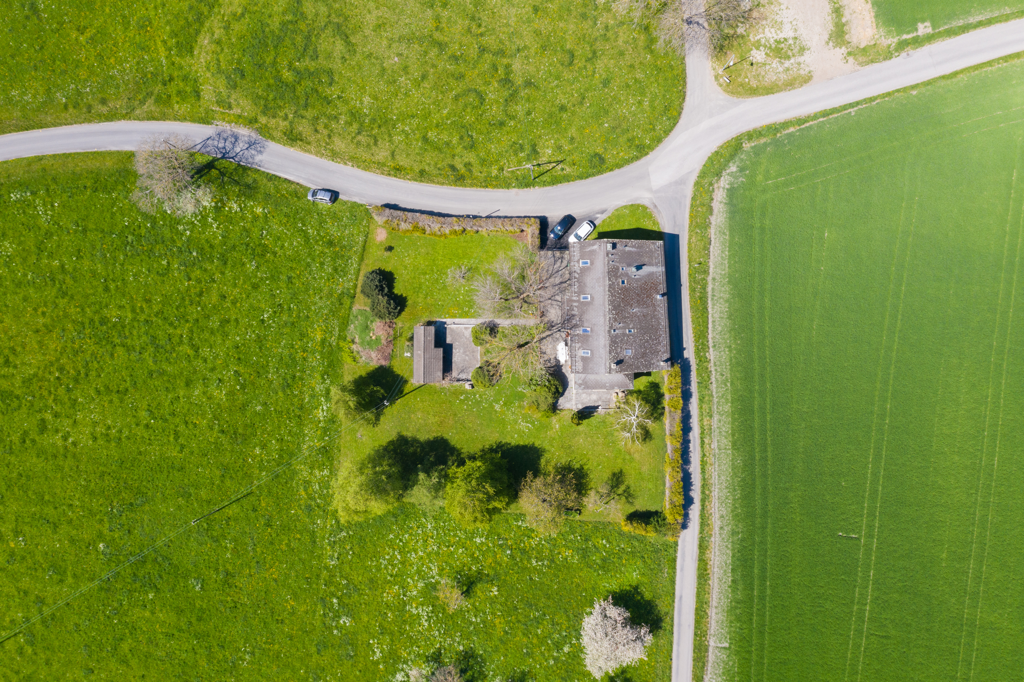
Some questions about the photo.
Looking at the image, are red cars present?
No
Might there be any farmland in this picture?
Yes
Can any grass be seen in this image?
Yes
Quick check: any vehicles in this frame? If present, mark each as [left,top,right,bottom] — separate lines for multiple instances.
[550,214,574,241]
[307,189,335,205]
[569,218,593,242]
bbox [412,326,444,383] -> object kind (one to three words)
building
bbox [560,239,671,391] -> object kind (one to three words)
house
